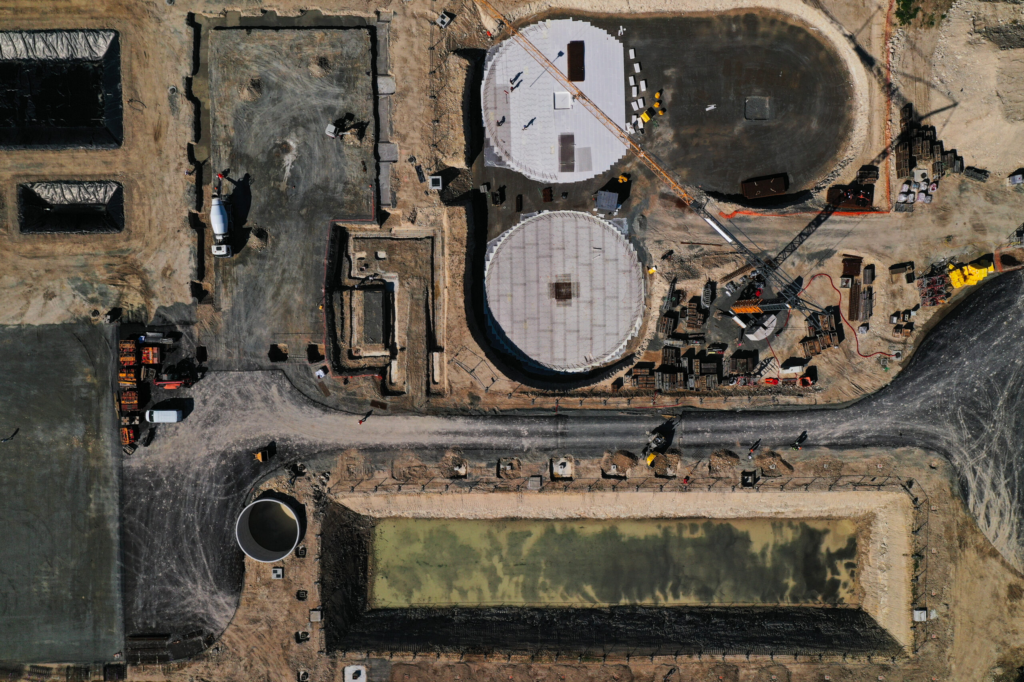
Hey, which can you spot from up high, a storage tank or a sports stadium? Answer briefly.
storage tank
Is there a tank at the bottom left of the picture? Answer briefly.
Yes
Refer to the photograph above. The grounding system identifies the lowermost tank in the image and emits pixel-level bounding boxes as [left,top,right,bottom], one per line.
[236,496,303,563]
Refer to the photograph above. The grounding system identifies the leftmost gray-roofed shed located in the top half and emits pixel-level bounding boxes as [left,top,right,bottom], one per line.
[595,189,619,214]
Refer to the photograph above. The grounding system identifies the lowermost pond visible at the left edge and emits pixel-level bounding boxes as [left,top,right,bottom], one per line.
[19,182,126,233]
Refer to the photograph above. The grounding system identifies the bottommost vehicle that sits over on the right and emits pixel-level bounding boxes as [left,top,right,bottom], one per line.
[647,428,665,462]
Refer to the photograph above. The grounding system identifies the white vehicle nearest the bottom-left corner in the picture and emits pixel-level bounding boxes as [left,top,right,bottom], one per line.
[149,407,189,424]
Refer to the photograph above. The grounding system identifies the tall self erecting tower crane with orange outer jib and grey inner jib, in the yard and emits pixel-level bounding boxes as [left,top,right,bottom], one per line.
[483,0,831,342]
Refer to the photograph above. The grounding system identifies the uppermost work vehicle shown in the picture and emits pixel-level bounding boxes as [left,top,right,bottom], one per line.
[325,124,354,142]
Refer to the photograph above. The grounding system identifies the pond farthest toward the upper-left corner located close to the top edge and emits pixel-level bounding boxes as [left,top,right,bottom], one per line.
[0,29,123,150]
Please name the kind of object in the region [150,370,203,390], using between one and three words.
work vehicle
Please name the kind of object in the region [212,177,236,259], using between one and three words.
truck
